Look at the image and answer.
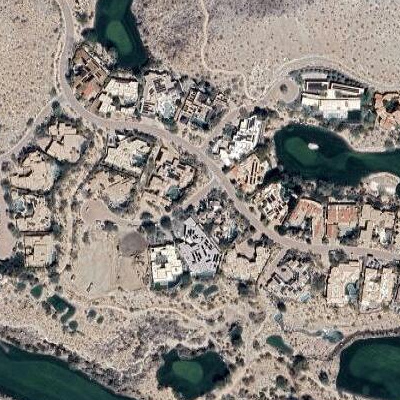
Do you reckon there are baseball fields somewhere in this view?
No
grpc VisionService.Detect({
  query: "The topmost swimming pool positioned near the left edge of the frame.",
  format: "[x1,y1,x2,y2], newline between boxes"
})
[11,193,32,217]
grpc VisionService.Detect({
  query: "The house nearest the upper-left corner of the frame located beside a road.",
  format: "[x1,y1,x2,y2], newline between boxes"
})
[69,44,109,101]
